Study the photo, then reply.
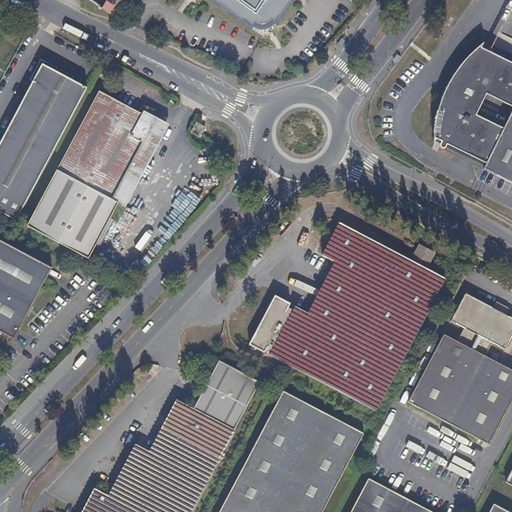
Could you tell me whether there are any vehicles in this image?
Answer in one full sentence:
Yes, the picture does show a vehicle.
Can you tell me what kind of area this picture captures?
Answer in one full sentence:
The area seen from above is an industrial area.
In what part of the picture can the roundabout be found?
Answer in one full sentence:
The roundabout is located in the top region of the scene.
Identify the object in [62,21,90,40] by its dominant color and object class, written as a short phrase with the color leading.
white vehicle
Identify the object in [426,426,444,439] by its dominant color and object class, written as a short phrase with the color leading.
white vehicle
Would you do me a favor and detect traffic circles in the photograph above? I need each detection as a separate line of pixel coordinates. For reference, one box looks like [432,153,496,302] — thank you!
[254,86,350,180]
